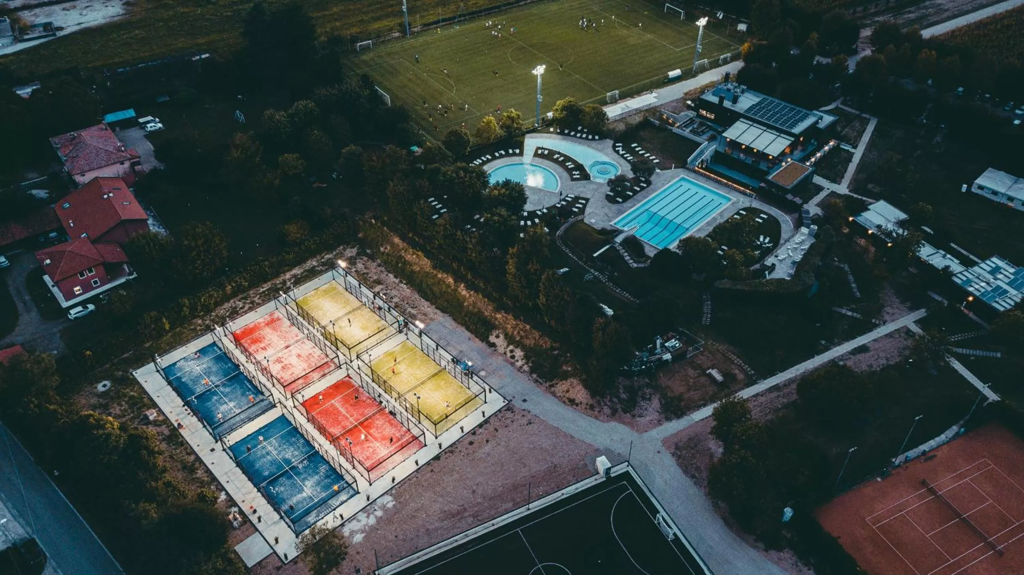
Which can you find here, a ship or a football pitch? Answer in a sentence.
It is a football pitch that can be seen here.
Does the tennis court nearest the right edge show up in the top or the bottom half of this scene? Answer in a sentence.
It is in the bottom half that the tennis court nearest the right edge appears.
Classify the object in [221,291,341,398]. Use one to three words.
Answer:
sports court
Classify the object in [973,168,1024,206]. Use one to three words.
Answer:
tent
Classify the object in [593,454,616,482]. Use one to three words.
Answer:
shed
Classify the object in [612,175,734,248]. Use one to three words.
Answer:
swimming pool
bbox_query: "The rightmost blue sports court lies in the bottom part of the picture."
[218,398,359,536]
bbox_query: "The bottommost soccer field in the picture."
[372,459,719,575]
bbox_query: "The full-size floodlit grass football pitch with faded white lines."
[326,0,742,157]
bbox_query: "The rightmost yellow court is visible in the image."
[356,321,486,438]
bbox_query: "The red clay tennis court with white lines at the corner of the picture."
[814,428,1024,575]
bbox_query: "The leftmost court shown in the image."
[151,324,276,441]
